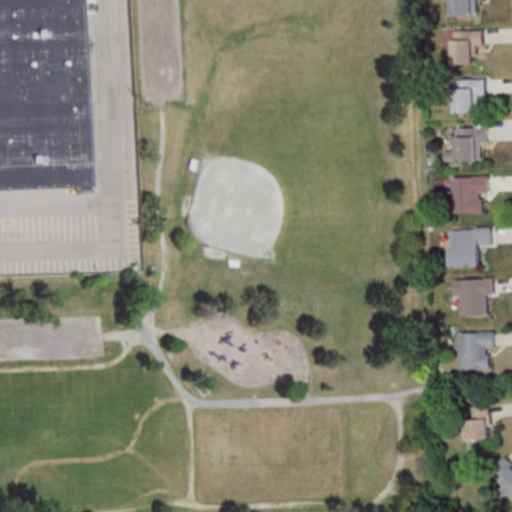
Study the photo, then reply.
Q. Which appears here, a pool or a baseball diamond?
baseball diamond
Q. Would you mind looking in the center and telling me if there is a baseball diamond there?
Yes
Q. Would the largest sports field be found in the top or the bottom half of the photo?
bottom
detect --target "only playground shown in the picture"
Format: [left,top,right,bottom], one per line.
[175,312,310,390]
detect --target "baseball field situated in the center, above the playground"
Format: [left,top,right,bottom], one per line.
[188,156,284,258]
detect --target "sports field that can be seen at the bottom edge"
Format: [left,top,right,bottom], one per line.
[196,408,341,499]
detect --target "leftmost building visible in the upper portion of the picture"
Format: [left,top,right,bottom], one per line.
[0,0,90,192]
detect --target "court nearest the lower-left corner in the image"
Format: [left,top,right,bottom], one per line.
[0,315,104,362]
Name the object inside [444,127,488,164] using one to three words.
house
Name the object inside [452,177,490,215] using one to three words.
house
